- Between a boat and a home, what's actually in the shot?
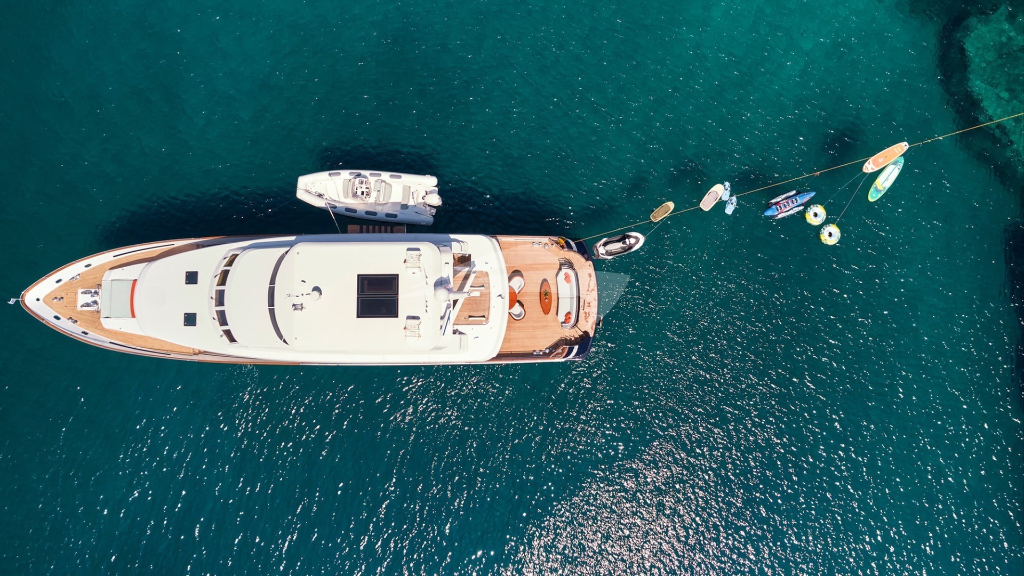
boat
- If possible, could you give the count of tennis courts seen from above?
none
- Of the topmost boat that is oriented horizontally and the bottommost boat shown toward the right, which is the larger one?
the topmost boat that is oriented horizontally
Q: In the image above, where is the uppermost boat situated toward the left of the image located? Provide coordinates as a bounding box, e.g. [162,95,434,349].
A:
[296,170,444,226]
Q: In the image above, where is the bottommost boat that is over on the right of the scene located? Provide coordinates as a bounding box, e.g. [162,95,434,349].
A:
[592,232,646,259]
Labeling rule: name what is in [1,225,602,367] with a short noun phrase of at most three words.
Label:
boat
